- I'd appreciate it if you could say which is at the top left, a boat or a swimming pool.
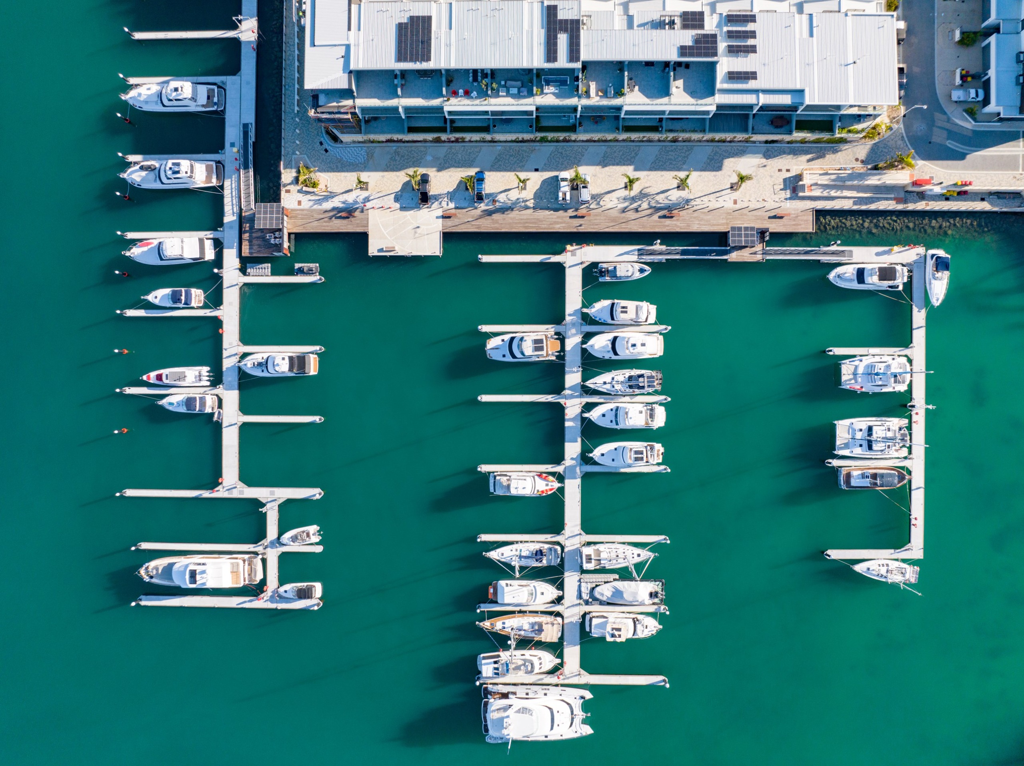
boat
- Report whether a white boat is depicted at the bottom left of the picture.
Yes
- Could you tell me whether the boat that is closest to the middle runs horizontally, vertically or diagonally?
horizontally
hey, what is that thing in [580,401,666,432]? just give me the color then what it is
white boat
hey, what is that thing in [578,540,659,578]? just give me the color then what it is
white boat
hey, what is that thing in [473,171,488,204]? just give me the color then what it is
blue vehicle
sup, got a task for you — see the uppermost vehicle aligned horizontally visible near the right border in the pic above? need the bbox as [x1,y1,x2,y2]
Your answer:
[949,87,984,103]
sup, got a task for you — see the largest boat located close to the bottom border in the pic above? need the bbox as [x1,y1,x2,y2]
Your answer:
[482,682,594,750]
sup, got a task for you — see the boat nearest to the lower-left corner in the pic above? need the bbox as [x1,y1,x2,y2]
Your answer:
[133,555,265,592]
